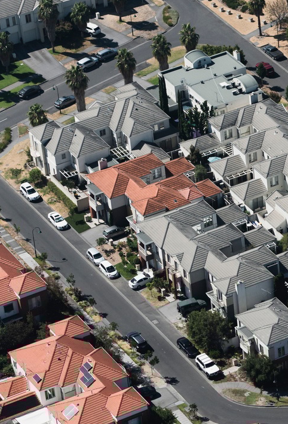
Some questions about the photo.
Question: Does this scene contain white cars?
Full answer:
Yes, there's a white car down there.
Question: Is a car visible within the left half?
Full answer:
Yes, looking within the left half, one can make out a car.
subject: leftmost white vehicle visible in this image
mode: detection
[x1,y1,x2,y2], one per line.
[19,179,42,199]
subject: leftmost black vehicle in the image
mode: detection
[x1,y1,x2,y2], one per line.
[16,83,44,97]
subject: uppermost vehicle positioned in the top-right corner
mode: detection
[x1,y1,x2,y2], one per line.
[262,43,285,58]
